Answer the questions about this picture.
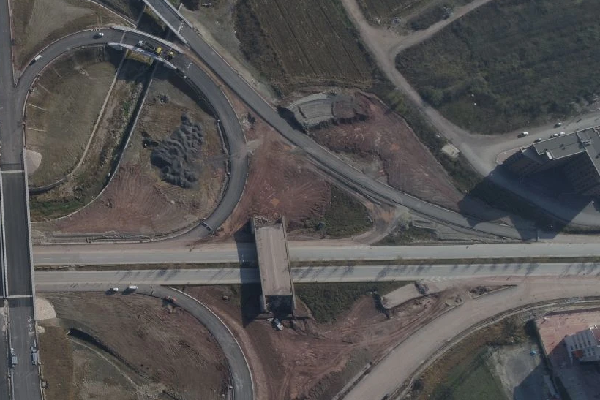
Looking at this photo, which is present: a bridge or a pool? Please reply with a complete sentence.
The one in the frame is a bridge.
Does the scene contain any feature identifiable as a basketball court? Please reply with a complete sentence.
No, there is no basketball court in the image.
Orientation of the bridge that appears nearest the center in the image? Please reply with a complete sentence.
The bridge that appears nearest the center is oriented vertically.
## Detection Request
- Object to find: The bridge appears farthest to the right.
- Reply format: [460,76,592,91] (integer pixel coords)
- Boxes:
[379,282,425,309]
